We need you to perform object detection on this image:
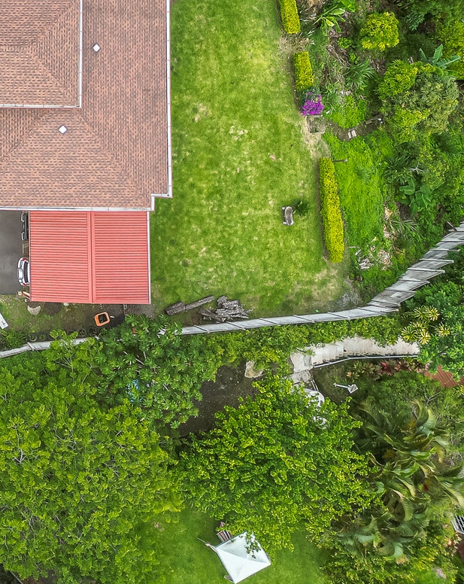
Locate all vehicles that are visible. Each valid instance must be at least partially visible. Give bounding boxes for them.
[16,254,29,287]
[19,212,28,241]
